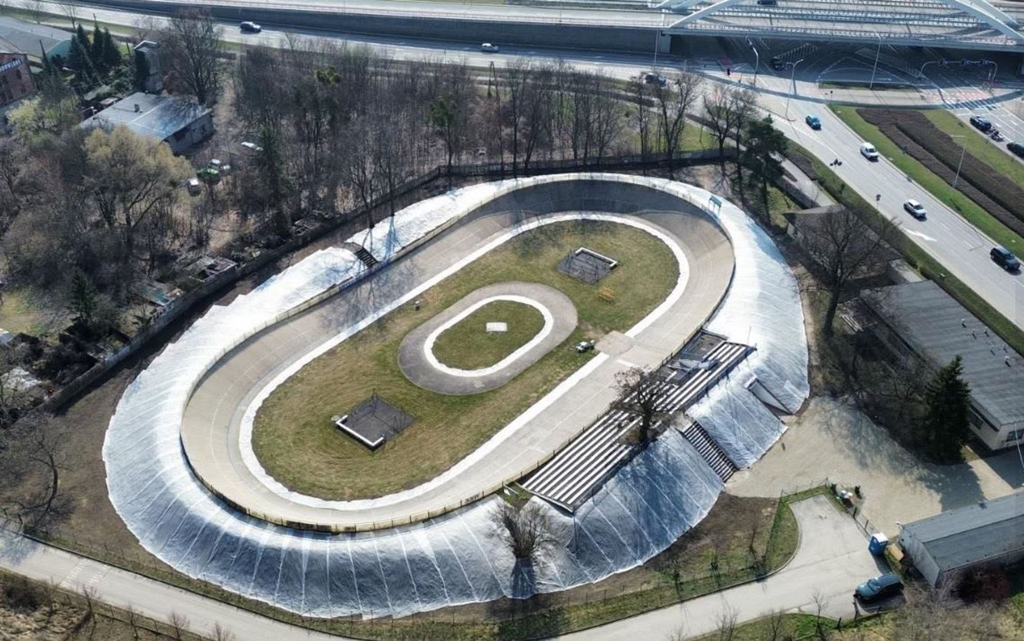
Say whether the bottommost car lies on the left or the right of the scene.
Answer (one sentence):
The bottommost car is on the right side of the image.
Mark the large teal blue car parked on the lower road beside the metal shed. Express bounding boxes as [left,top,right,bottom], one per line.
[856,566,904,598]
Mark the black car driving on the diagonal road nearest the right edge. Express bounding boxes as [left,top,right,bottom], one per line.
[990,241,1022,265]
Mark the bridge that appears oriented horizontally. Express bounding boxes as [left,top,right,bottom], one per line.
[657,0,1024,73]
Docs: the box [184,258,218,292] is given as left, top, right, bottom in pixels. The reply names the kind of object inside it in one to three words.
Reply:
shed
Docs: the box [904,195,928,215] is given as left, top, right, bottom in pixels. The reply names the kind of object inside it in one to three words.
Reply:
car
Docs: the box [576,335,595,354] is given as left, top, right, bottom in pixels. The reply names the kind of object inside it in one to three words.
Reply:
work vehicle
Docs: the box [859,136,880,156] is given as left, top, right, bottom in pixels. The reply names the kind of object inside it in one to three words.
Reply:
vehicle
